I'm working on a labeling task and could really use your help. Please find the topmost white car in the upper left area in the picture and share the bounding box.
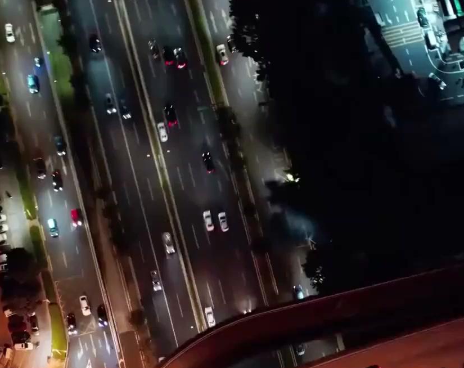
[4,22,17,46]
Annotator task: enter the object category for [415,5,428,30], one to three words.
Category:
vehicle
